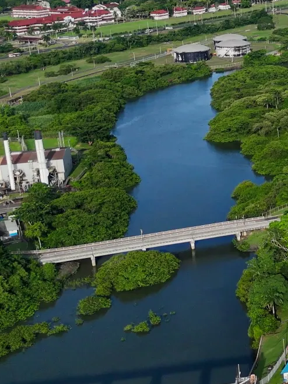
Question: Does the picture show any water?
Yes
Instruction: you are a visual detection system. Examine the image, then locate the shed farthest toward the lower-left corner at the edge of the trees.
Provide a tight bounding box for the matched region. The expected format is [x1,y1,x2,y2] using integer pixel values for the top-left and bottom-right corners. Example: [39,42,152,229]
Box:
[1,212,31,236]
